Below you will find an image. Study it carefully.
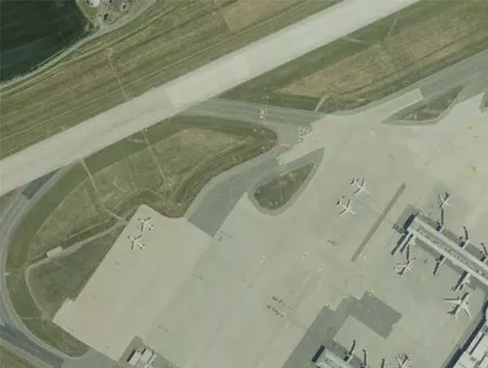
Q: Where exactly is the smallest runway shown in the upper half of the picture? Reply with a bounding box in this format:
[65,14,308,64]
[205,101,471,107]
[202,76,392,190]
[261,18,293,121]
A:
[168,47,260,110]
